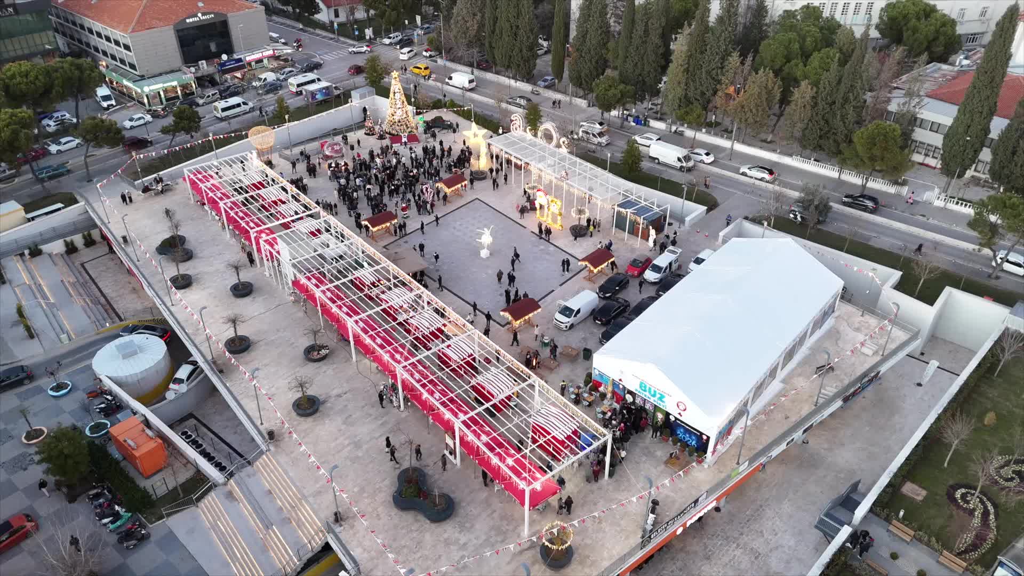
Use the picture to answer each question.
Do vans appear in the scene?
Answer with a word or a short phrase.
Yes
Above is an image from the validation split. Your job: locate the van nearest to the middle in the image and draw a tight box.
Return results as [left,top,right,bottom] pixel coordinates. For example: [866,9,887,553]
[553,284,604,330]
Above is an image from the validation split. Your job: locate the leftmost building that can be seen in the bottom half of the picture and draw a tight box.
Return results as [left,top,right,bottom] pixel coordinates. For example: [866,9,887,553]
[90,335,177,412]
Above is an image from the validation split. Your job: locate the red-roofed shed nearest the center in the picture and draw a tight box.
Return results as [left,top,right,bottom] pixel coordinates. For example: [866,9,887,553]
[496,292,545,332]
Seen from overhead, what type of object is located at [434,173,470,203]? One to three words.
shed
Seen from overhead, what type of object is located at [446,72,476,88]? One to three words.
vehicle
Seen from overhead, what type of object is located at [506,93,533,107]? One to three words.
car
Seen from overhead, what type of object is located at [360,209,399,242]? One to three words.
shed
